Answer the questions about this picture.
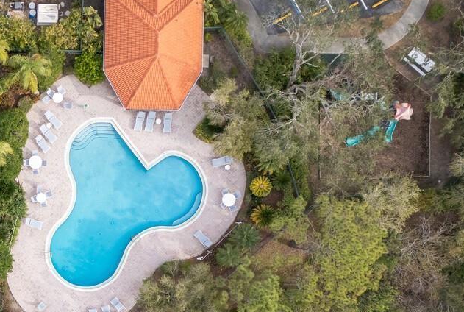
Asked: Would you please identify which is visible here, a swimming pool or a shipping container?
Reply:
swimming pool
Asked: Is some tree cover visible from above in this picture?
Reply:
Yes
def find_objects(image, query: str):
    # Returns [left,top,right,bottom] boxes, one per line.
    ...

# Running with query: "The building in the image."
[102,0,204,111]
